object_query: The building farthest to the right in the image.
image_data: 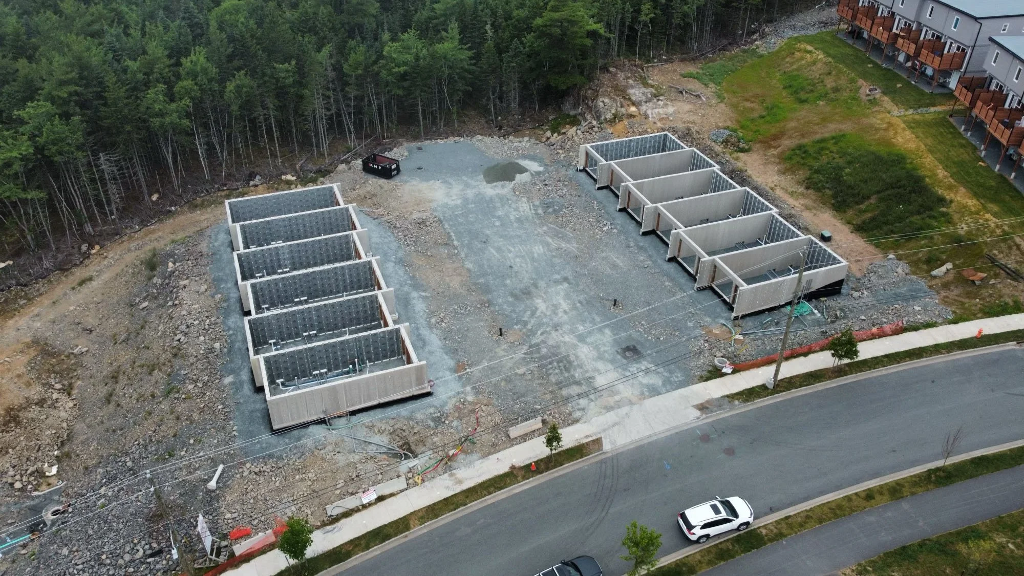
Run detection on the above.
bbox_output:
[937,38,1024,200]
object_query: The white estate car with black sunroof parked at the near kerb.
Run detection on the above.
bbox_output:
[681,499,755,544]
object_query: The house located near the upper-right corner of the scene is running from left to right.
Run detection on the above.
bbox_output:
[834,0,1024,90]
